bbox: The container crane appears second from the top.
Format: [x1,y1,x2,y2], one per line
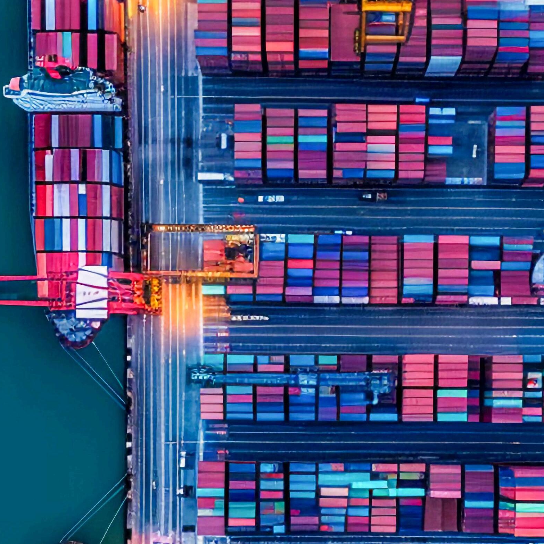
[147,225,257,284]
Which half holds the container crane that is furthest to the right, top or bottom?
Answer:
top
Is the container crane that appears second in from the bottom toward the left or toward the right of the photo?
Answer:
left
